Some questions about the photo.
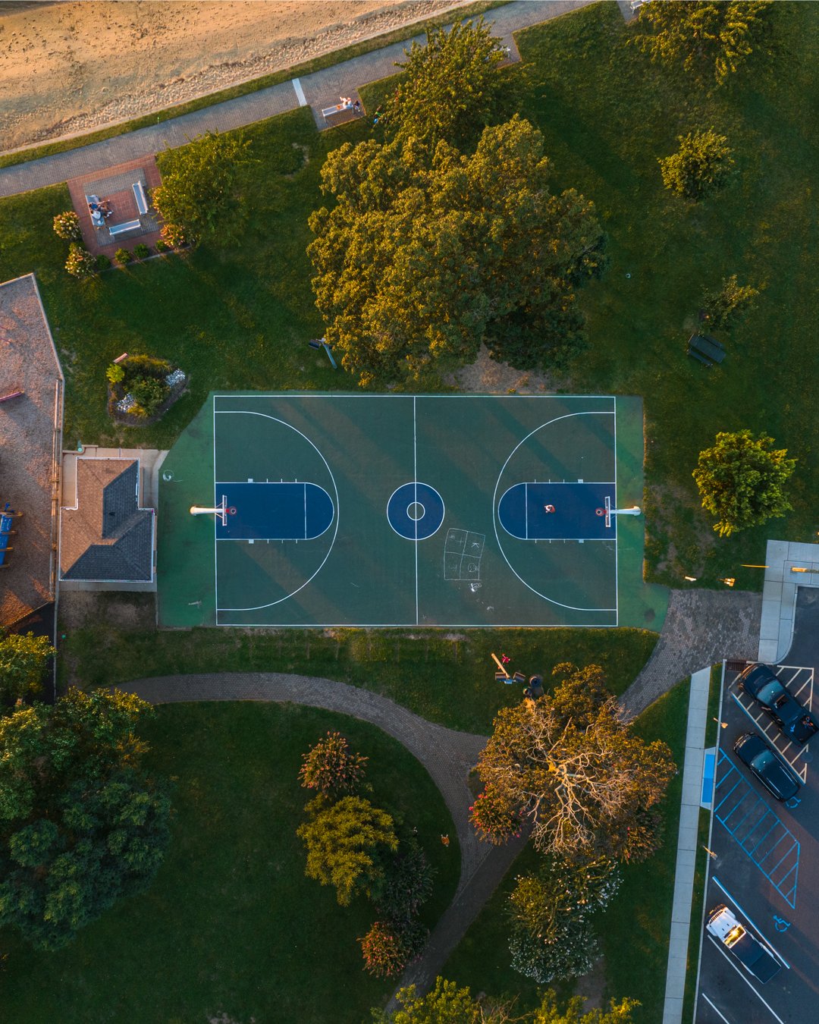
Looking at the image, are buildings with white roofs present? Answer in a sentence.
No, I can't see a single building with a white roof in this photo.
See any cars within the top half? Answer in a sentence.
No, no car appears within the top half.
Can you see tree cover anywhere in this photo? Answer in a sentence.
Yes, there is tree cover in the image.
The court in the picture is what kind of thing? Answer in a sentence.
The court in the image is a basketball court.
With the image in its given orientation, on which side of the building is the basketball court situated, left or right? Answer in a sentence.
You can see the basketball court positioned to the right of the building.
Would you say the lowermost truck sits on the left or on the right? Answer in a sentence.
The lowermost truck sits on the right side.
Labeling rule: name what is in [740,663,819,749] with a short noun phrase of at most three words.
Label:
truck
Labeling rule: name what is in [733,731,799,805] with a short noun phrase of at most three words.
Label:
car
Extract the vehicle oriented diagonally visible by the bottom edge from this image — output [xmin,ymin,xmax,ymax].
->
[707,902,782,984]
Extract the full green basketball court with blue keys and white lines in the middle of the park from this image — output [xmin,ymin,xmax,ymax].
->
[158,392,670,632]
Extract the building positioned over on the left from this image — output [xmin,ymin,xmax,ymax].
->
[60,457,158,582]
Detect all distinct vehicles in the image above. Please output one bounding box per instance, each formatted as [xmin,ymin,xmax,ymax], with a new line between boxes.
[740,663,819,749]
[707,902,782,984]
[733,731,799,805]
